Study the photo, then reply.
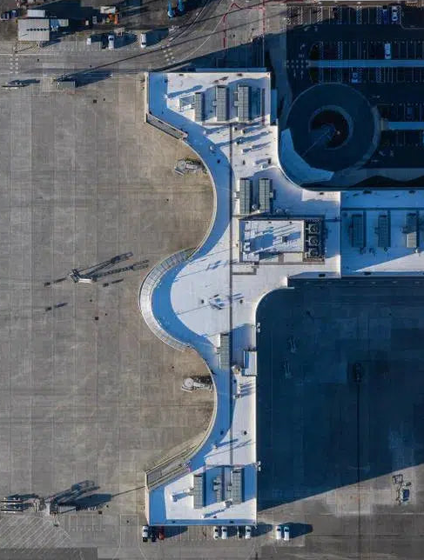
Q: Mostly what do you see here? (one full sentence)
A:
Most of the picture is covered by paved ground.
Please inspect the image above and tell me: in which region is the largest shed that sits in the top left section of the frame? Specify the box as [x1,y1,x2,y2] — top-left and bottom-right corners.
[18,19,50,41]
